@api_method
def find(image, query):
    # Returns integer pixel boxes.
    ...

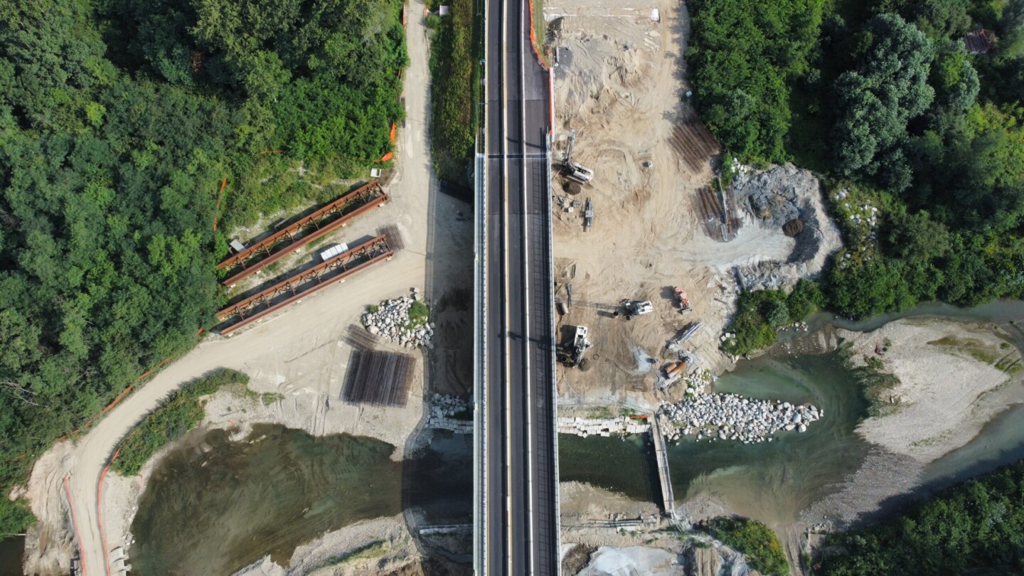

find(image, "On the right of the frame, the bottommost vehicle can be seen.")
[673,286,694,319]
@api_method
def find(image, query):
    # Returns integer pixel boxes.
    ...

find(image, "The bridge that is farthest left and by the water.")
[472,139,560,576]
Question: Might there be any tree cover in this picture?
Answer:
Yes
